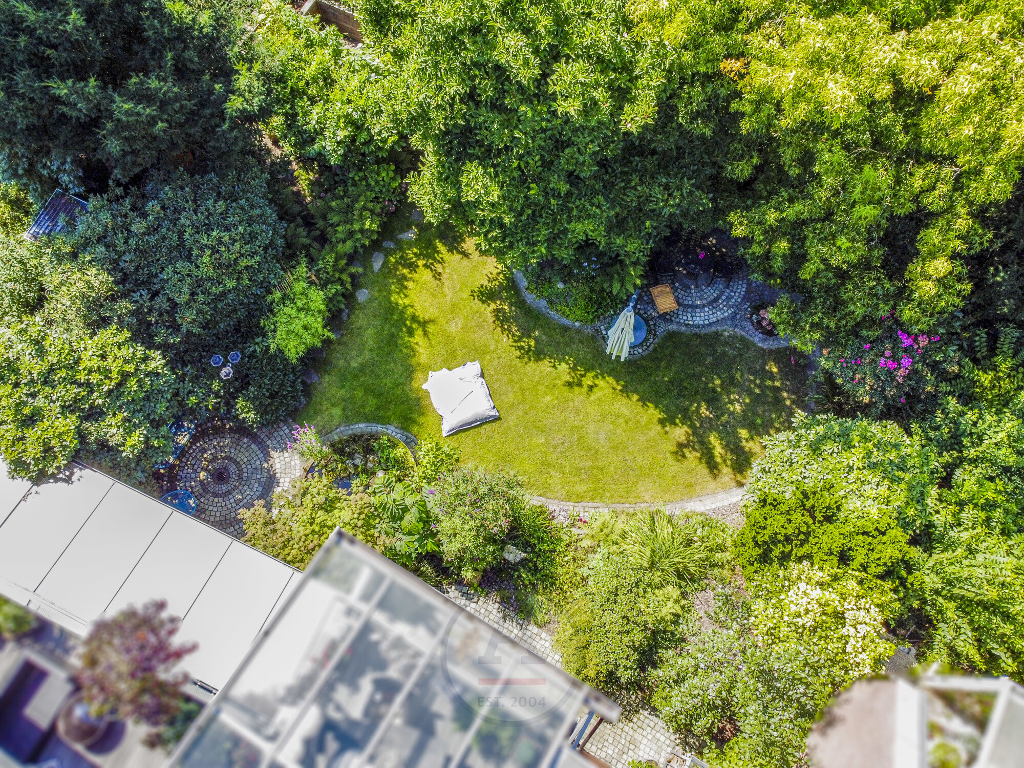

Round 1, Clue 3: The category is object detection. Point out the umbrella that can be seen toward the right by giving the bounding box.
[606,288,647,361]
